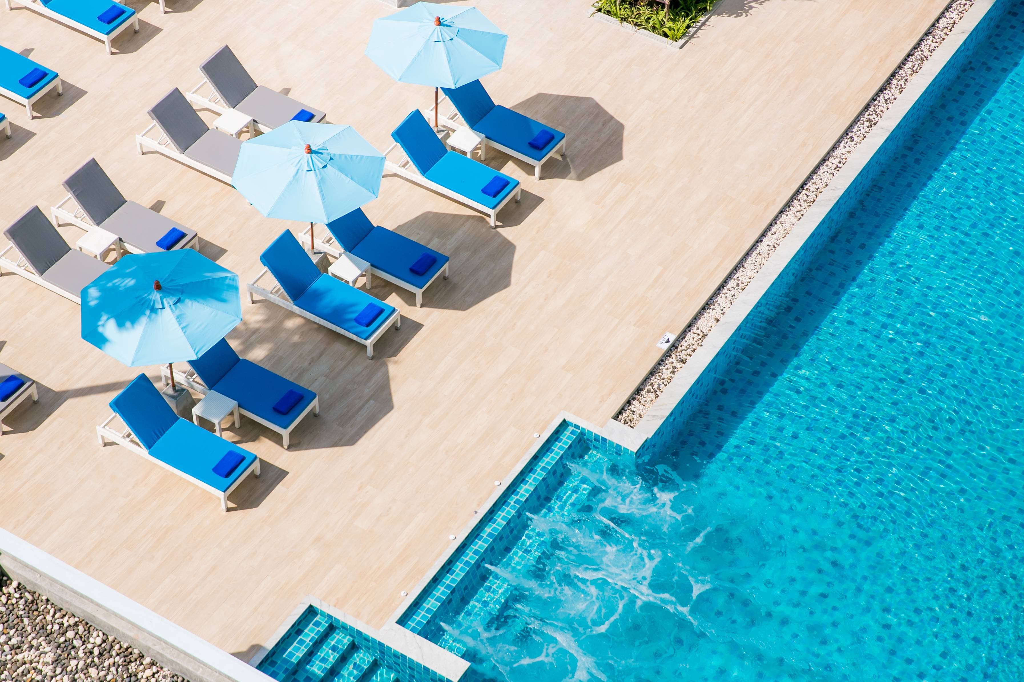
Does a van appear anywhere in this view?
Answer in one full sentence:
No, there's no van here.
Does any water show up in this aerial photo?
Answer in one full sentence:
Yes, there is water in the image.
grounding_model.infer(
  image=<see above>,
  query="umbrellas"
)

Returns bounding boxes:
[366,0,508,142]
[231,120,387,272]
[81,250,244,417]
